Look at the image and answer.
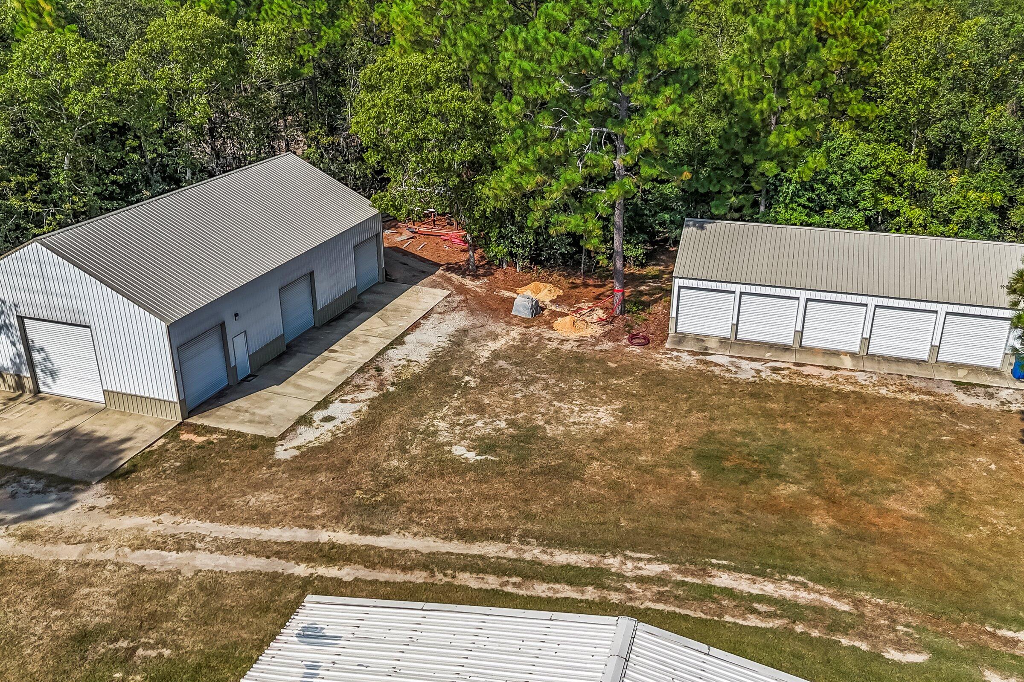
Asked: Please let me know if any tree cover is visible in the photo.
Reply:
Yes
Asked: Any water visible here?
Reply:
No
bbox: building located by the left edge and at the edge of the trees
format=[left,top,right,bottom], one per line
[0,152,385,421]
